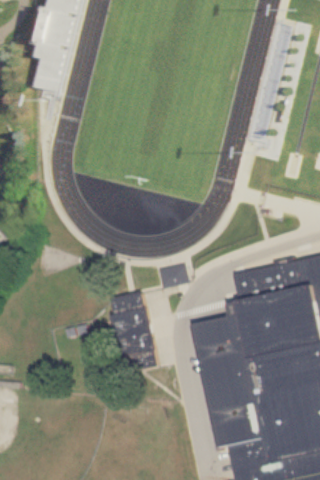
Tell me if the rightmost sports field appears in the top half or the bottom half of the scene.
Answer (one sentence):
The rightmost sports field is in the top half of the image.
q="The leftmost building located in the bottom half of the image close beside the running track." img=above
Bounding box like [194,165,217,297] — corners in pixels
[110,290,158,368]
